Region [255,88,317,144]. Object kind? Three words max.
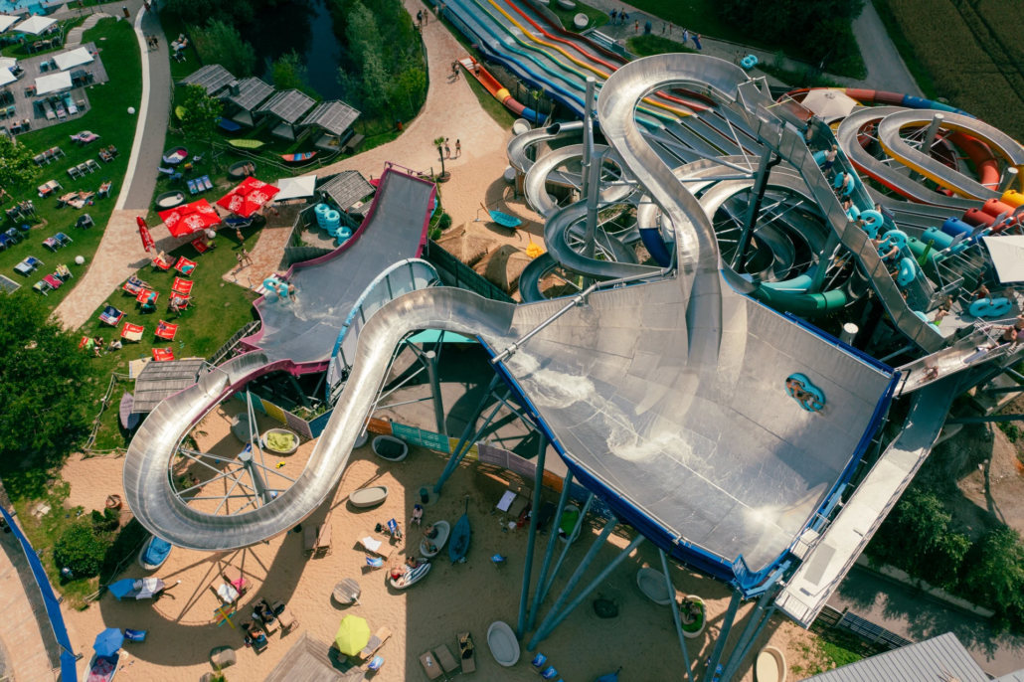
shed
